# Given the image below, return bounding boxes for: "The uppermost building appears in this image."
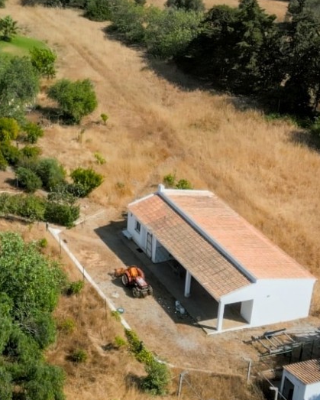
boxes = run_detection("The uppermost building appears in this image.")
[118,180,316,334]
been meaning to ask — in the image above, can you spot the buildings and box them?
[281,351,320,400]
[118,180,316,334]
